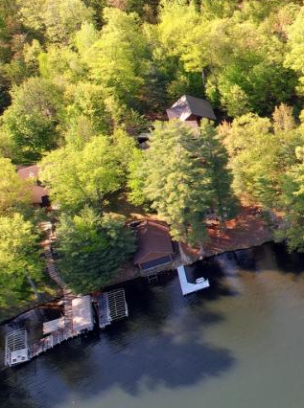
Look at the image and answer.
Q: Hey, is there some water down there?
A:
Yes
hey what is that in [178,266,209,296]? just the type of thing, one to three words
pier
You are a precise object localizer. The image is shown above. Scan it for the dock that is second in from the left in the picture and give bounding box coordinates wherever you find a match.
[97,290,114,329]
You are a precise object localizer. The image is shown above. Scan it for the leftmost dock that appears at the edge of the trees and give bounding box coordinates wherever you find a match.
[29,288,96,361]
